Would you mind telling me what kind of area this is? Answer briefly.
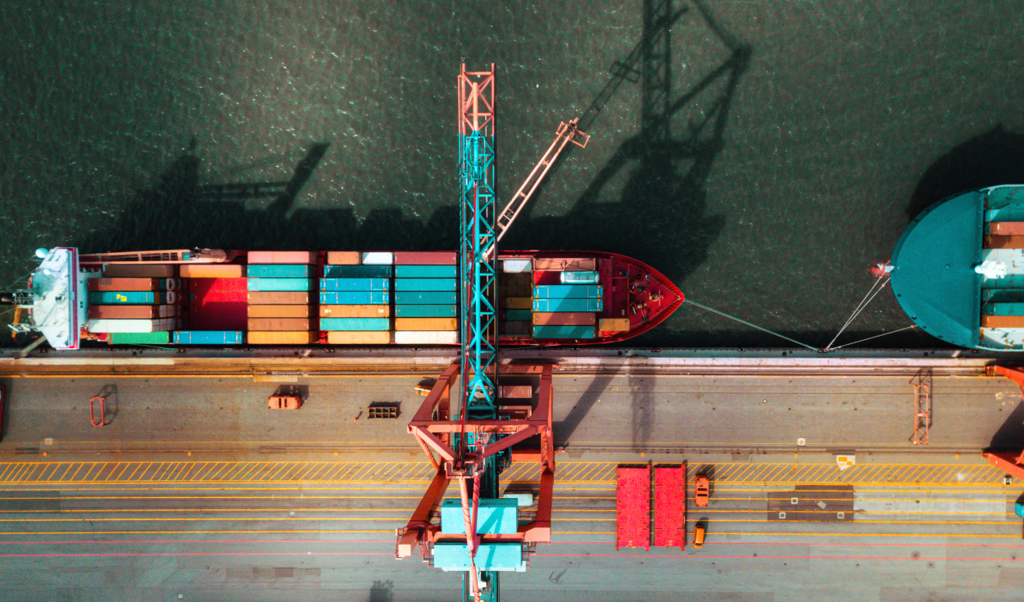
port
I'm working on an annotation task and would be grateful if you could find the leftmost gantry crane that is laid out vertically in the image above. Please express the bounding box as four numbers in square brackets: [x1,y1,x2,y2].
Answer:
[391,57,563,602]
